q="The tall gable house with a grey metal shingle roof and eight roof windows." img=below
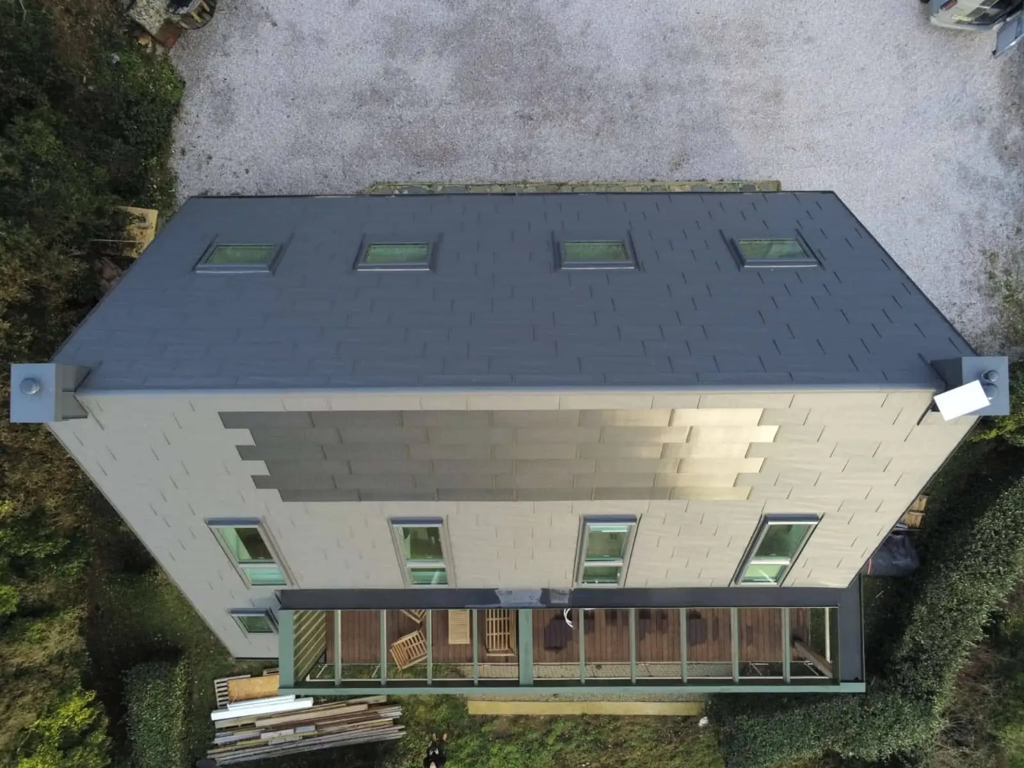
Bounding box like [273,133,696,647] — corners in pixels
[11,191,1008,660]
